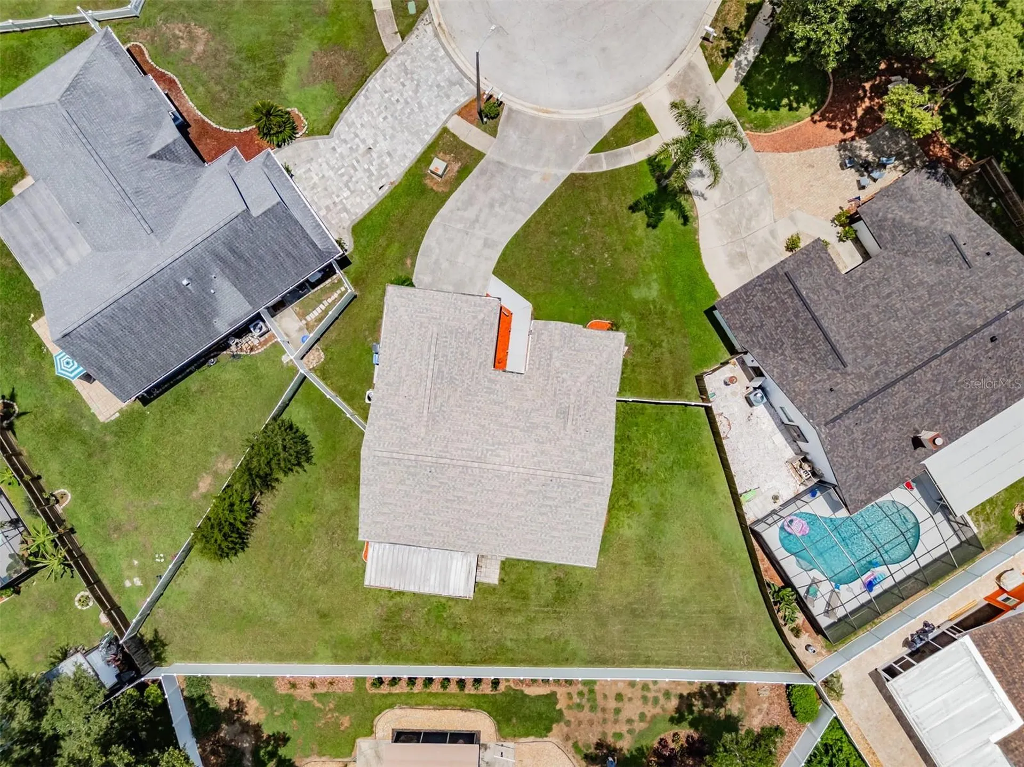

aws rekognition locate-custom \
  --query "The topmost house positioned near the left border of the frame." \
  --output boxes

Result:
[0,26,343,403]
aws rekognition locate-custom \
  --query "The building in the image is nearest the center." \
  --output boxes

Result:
[358,285,629,599]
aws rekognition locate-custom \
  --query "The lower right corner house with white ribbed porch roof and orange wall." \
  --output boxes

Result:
[865,584,1024,767]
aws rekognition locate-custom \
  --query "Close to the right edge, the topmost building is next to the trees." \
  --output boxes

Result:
[710,159,1024,516]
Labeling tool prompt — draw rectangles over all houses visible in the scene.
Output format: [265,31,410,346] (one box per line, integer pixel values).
[710,159,1024,516]
[865,584,1024,767]
[380,729,481,767]
[0,26,343,403]
[358,285,629,599]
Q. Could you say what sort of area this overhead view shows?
residential area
